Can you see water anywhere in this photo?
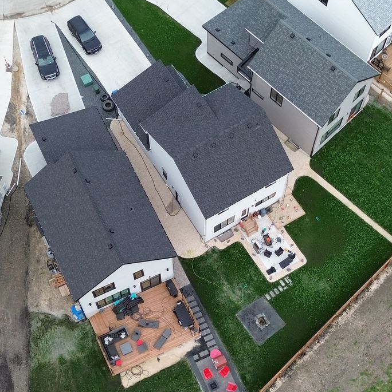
No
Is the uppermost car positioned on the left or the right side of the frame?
left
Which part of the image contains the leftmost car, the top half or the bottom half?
top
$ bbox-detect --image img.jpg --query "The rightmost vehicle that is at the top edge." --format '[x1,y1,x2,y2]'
[67,13,101,54]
